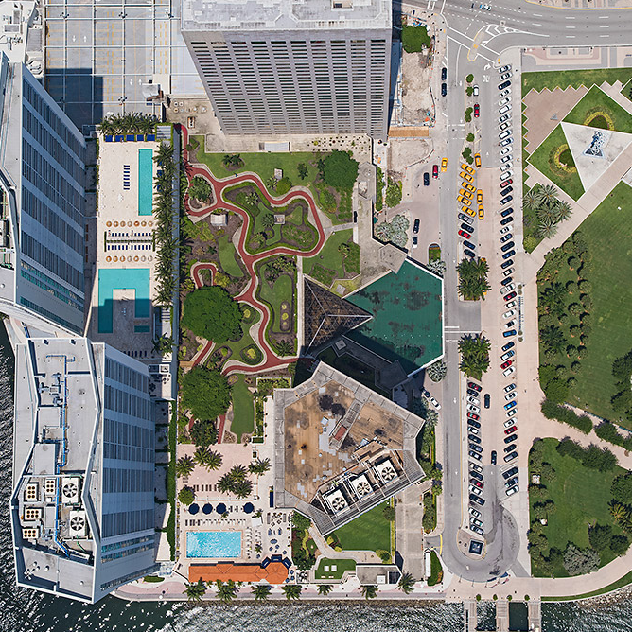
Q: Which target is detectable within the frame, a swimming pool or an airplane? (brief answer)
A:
swimming pool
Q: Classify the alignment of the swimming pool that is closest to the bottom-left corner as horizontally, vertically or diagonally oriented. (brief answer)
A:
horizontally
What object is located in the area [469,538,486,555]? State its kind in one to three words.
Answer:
fountain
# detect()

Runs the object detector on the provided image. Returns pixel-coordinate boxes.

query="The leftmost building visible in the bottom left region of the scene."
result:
[9,337,155,602]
